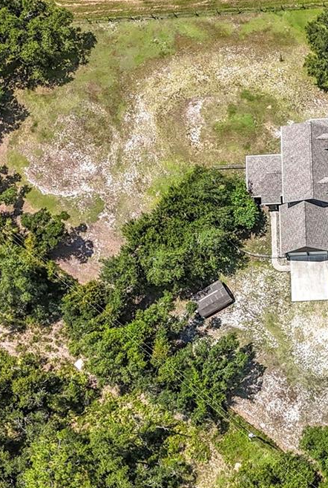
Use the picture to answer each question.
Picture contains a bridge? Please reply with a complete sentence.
No, the picture doesn't show any bridge.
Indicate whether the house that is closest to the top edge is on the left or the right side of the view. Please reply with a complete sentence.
The house that is closest to the top edge appears in the right half of the scene.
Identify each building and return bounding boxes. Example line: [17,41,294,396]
[191,282,232,320]
[246,115,328,260]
